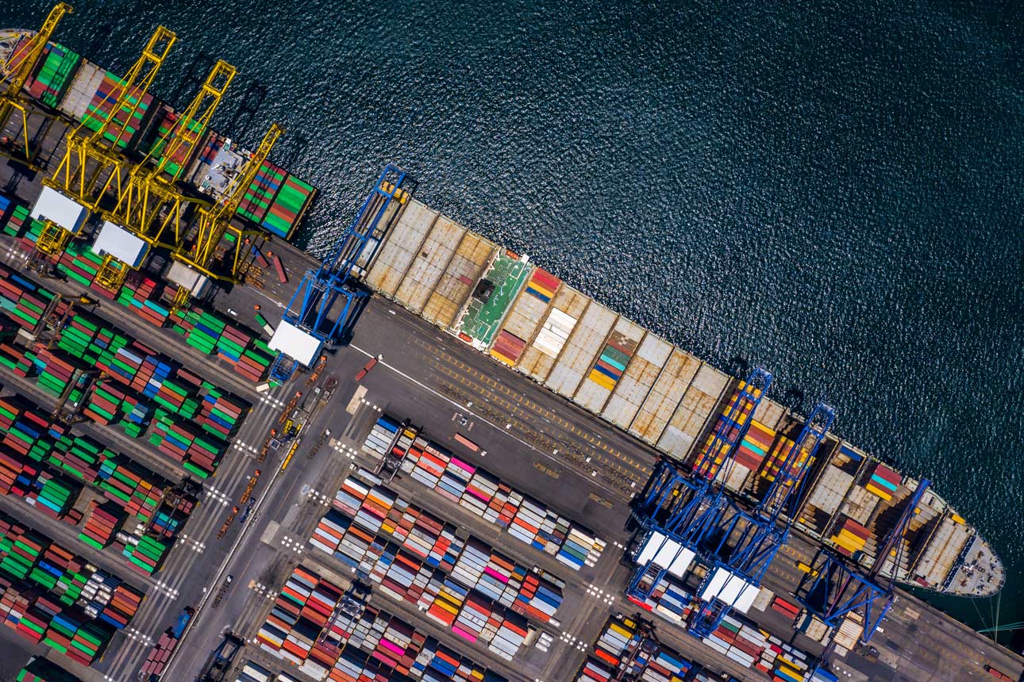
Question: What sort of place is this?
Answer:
port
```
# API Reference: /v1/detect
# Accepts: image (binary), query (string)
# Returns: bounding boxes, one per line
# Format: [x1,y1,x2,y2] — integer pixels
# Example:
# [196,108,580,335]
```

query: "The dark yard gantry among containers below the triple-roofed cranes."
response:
[608,618,654,682]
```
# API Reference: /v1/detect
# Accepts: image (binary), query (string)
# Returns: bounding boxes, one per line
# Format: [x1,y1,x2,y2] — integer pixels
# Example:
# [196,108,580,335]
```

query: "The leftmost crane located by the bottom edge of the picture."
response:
[199,617,262,682]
